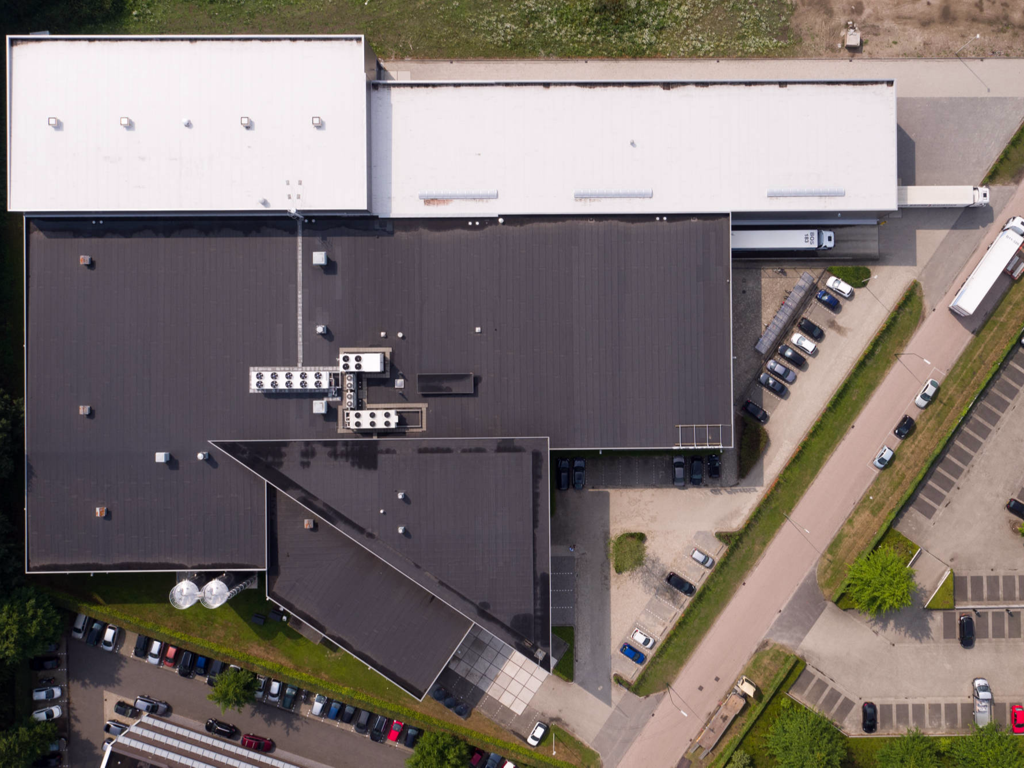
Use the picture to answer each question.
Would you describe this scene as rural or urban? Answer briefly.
urban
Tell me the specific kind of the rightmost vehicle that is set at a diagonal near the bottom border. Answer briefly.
truck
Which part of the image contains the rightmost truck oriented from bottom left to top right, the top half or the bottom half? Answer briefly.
top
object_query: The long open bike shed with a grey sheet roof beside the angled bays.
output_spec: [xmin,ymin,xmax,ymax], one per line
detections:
[756,272,814,354]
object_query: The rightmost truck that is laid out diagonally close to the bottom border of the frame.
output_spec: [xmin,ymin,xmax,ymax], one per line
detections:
[690,674,758,758]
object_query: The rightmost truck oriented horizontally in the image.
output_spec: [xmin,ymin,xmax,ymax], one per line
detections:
[897,186,989,209]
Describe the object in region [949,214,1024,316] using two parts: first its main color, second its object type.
white truck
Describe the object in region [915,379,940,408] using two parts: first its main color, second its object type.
white car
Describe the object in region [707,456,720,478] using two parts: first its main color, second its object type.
black vehicle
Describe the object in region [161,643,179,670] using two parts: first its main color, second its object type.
red car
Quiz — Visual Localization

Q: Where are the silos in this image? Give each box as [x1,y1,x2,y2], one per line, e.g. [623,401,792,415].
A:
[199,571,248,607]
[169,571,219,607]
